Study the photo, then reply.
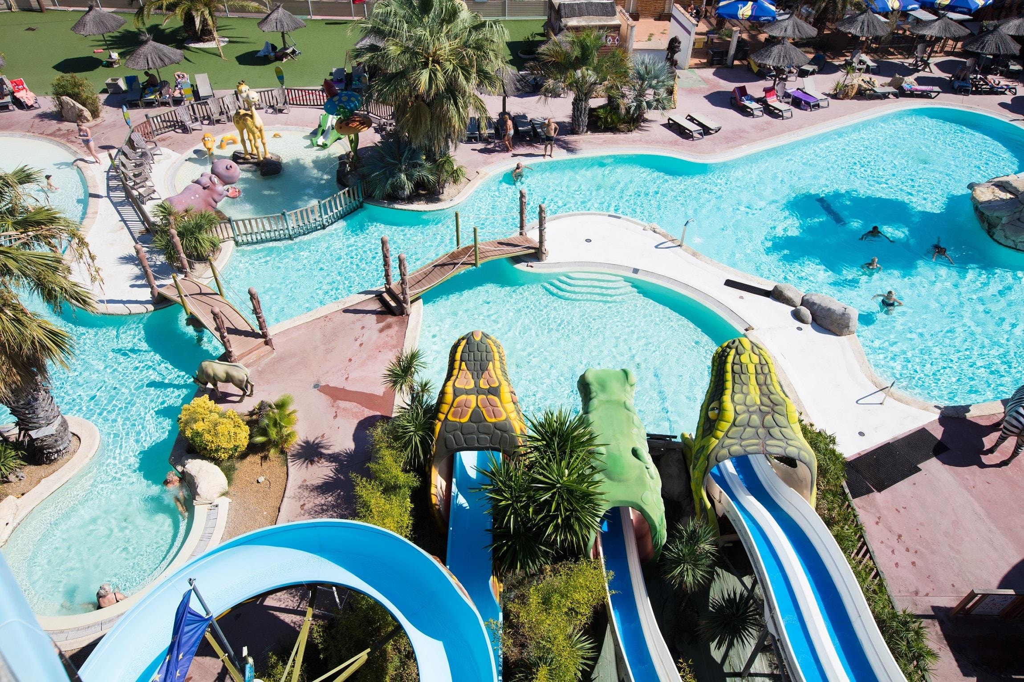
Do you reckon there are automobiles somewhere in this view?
No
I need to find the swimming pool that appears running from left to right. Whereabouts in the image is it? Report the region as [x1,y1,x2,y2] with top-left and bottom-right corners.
[0,109,1024,615]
